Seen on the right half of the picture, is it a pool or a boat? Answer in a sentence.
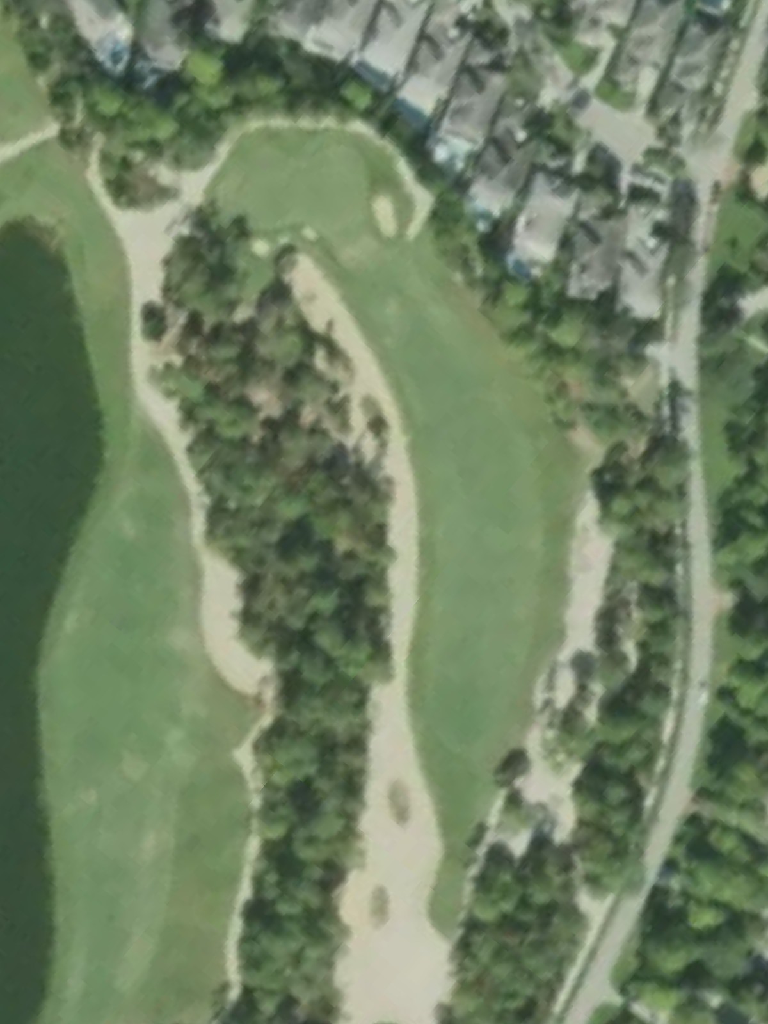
It is a pool that can be seen on the right half of the picture.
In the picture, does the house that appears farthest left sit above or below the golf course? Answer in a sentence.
Relative to the golf course, the house that appears farthest left lies above it.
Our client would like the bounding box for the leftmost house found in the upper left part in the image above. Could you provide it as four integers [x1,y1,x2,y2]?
[64,0,134,48]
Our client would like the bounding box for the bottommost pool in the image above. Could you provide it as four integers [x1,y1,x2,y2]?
[509,249,544,283]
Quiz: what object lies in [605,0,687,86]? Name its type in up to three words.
house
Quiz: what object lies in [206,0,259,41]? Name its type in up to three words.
house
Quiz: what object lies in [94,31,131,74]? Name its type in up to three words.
swimming pool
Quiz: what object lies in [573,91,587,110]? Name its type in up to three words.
vehicle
